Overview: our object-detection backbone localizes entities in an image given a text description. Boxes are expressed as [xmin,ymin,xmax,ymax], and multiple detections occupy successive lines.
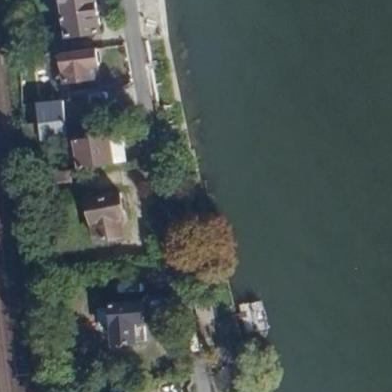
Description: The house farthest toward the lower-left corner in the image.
[107,296,152,344]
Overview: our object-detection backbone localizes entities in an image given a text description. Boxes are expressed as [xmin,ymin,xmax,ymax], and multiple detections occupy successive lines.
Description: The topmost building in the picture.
[58,0,107,41]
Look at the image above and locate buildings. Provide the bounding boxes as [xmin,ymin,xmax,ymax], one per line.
[54,170,74,185]
[34,100,68,142]
[56,46,106,84]
[72,137,128,171]
[84,185,131,240]
[58,0,107,41]
[107,296,152,344]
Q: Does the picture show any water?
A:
Yes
